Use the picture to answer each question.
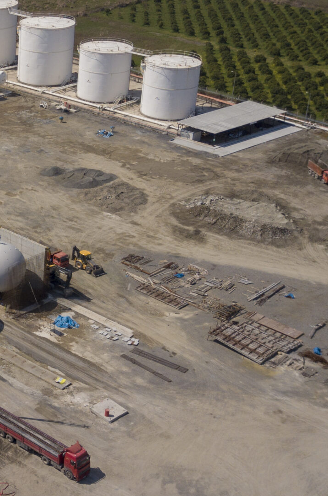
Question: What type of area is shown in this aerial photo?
industrial area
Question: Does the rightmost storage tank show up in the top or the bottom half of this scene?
top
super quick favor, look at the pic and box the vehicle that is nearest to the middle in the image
[71,242,110,280]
